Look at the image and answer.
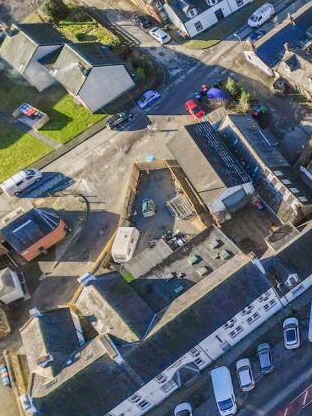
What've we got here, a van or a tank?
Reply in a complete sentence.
The image shows a van.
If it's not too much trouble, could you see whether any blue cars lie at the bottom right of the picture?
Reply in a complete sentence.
Yes, you'll find a blue car at the bottom right of the picture.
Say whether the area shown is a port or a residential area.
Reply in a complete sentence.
The area seen from above is a residential area.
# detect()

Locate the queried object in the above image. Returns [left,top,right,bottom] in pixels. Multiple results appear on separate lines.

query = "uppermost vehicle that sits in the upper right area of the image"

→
[246,0,277,29]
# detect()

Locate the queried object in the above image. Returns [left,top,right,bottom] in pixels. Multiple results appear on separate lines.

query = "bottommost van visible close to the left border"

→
[0,167,43,196]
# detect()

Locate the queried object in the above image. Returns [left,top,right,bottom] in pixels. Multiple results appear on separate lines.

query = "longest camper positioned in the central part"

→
[107,220,141,265]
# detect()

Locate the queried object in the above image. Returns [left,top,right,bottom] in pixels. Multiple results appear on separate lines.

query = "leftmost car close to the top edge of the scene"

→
[132,15,152,31]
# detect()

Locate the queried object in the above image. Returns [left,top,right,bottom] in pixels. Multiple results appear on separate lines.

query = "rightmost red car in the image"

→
[182,97,206,121]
